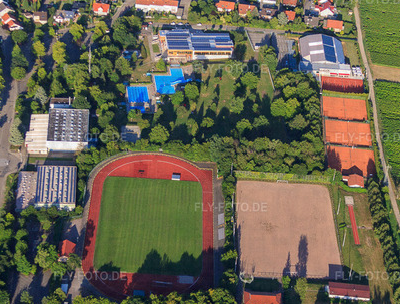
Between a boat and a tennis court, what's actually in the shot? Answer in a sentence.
Visible in the photo is a tennis court.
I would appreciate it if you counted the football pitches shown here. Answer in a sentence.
My tally gives 2 football pitches in this view.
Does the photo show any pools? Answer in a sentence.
Yes, the image includes a pool.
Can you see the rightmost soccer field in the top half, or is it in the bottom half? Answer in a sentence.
It is in the bottom half that the rightmost soccer field appears.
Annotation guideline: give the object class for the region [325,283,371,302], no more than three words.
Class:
building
